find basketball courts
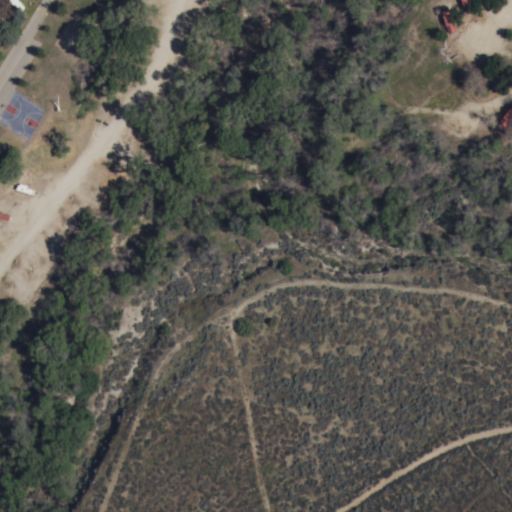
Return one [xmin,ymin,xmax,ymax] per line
[0,92,45,136]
